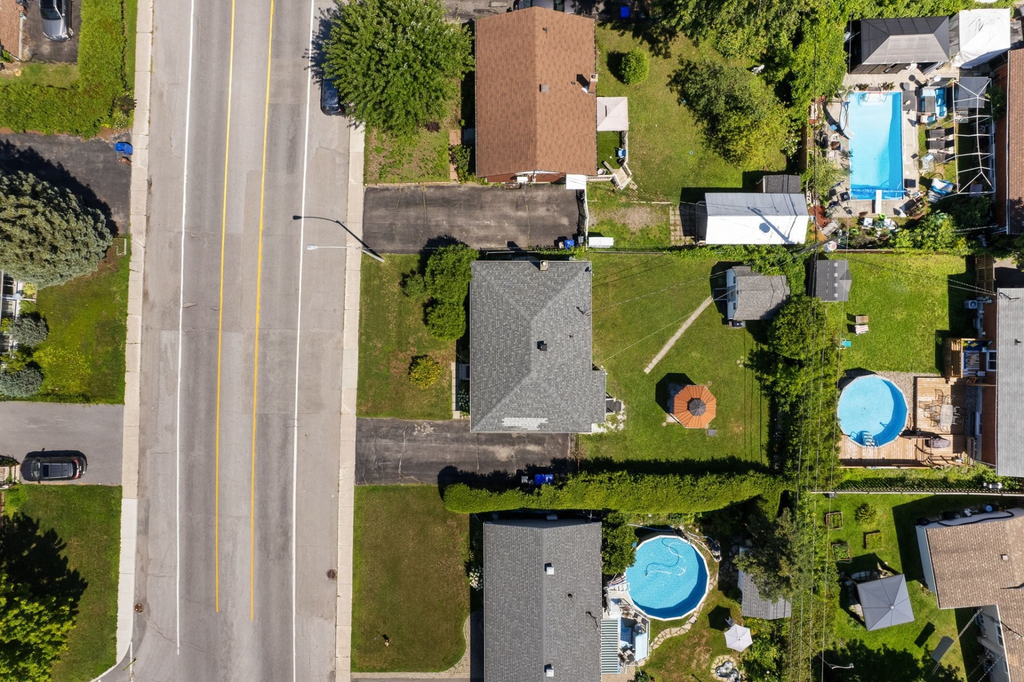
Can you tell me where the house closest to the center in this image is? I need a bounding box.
[469,260,607,433]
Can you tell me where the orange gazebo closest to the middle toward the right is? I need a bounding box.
[667,385,716,429]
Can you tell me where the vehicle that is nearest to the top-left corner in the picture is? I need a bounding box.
[36,0,74,43]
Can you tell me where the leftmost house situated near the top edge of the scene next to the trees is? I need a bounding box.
[474,9,601,180]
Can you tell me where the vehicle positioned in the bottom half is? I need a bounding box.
[21,453,89,485]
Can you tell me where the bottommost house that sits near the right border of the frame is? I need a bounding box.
[915,506,1024,682]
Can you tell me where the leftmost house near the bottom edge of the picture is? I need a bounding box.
[483,517,602,682]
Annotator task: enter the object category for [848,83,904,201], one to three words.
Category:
swimming pool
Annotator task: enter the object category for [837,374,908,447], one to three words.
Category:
swimming pool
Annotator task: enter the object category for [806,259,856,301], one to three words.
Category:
shed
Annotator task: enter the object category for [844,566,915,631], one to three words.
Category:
gazebo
